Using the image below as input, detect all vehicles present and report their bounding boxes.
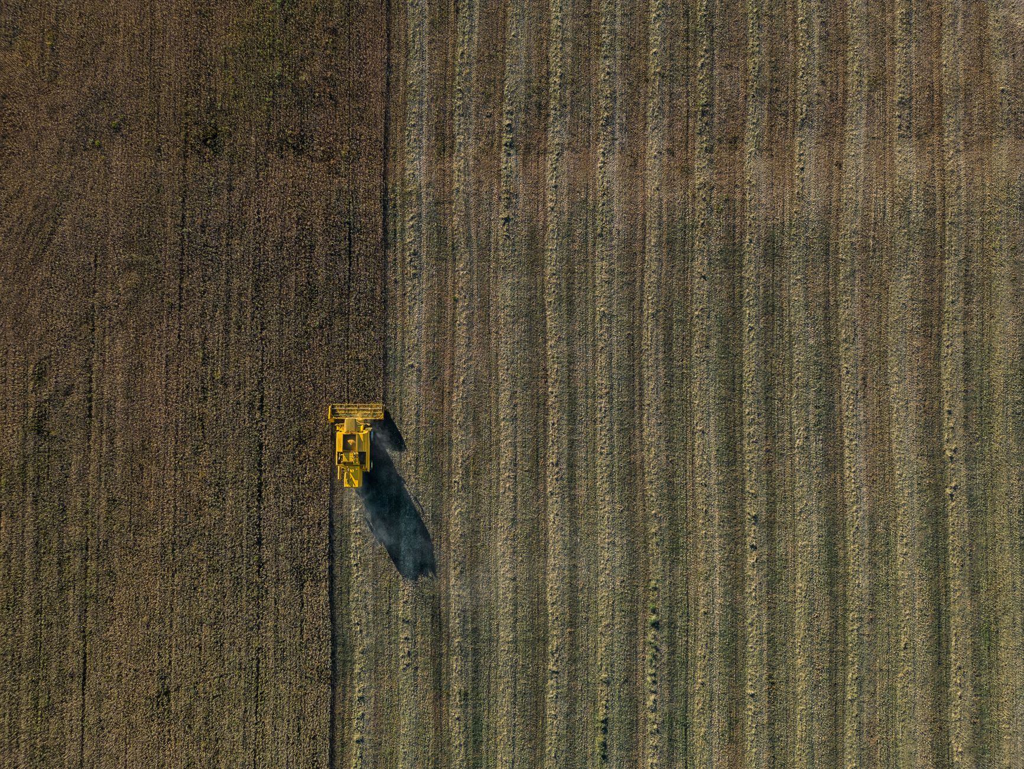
[329,400,386,487]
